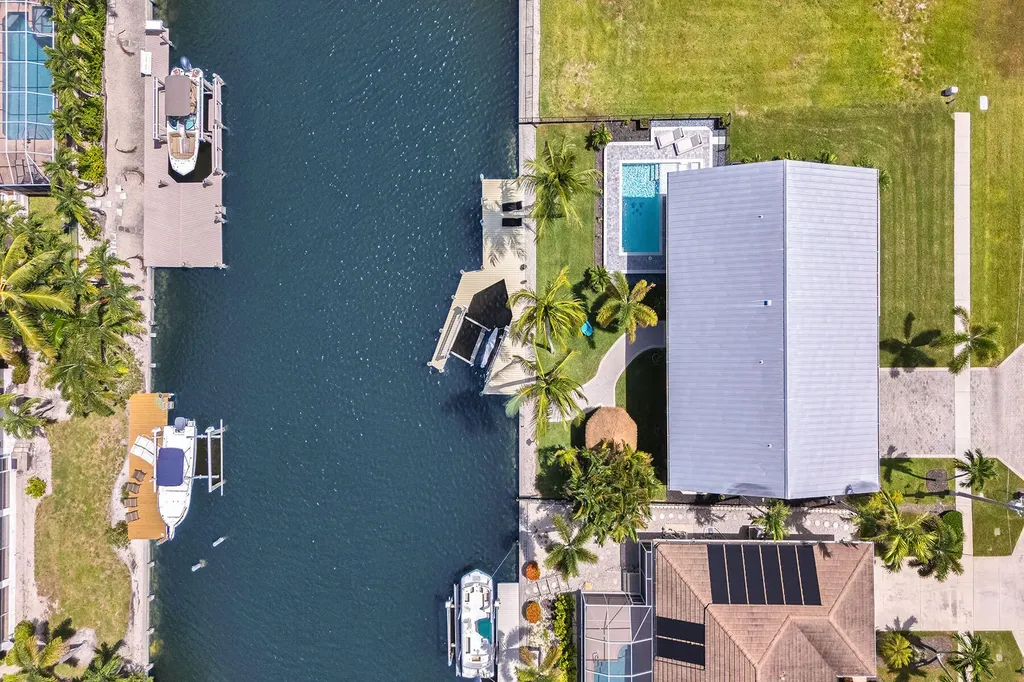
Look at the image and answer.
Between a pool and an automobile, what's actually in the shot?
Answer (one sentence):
The image shows a pool.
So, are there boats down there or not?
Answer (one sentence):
Yes, a boat can be made out from above.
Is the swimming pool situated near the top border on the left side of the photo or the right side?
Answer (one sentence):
The swimming pool situated near the top border sits on the left side.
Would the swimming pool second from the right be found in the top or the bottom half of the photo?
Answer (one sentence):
The swimming pool second from the right sits in the bottom half of the picture.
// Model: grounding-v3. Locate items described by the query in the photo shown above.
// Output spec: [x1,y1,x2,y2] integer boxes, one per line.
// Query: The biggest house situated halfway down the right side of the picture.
[666,159,880,499]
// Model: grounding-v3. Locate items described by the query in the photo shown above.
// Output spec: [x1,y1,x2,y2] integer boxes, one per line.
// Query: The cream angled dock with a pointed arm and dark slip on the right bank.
[426,171,524,397]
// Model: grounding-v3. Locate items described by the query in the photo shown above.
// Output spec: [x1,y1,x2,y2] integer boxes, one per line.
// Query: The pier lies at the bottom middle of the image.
[497,583,519,682]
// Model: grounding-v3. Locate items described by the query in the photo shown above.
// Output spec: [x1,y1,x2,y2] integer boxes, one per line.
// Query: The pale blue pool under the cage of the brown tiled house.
[593,645,630,682]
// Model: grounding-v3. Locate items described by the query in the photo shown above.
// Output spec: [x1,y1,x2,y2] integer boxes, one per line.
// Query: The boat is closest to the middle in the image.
[481,328,499,367]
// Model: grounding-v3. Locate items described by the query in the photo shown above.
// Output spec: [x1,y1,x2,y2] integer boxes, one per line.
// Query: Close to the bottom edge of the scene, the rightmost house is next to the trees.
[654,539,875,682]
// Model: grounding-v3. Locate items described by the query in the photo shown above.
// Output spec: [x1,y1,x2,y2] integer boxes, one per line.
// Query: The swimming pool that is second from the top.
[619,160,705,255]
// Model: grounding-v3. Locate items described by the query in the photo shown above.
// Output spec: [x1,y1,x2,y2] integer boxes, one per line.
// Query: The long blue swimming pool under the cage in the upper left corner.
[4,12,51,139]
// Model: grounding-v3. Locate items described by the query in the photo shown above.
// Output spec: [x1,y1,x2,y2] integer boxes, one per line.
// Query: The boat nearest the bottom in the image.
[459,570,494,682]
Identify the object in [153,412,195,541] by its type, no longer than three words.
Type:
boat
